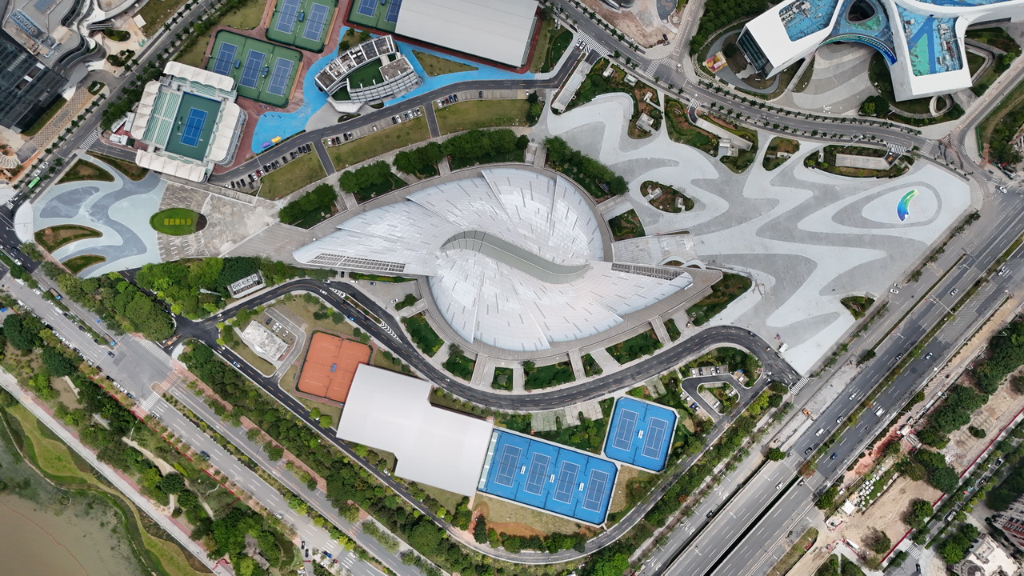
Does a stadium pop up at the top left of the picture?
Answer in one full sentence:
Yes, you'll find a stadium at the top left of the picture.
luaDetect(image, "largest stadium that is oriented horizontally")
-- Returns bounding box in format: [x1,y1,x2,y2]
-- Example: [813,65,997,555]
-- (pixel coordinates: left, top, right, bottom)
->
[217,161,724,365]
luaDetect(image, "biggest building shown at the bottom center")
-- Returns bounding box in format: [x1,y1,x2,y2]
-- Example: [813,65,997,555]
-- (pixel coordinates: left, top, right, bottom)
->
[336,361,494,497]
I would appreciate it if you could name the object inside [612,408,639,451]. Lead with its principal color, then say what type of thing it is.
blue tennis court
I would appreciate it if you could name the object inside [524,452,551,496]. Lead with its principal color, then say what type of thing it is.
blue tennis court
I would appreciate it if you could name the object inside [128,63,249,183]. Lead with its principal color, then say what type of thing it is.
white stadium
